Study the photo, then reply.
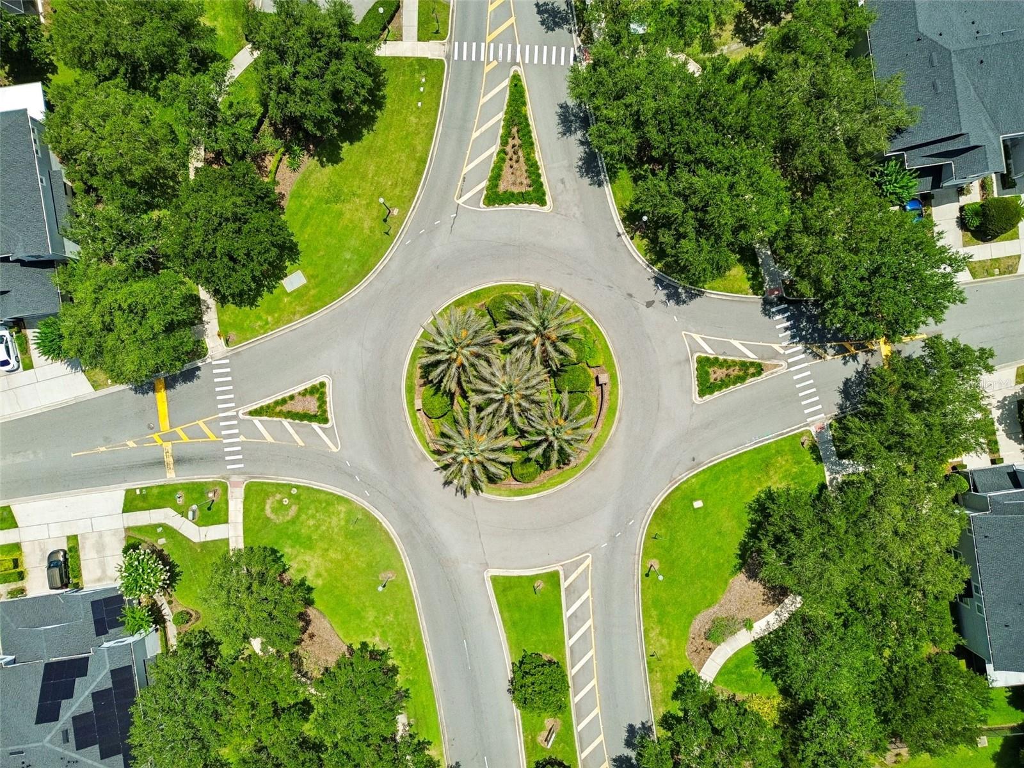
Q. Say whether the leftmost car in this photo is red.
No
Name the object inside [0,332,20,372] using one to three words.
car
